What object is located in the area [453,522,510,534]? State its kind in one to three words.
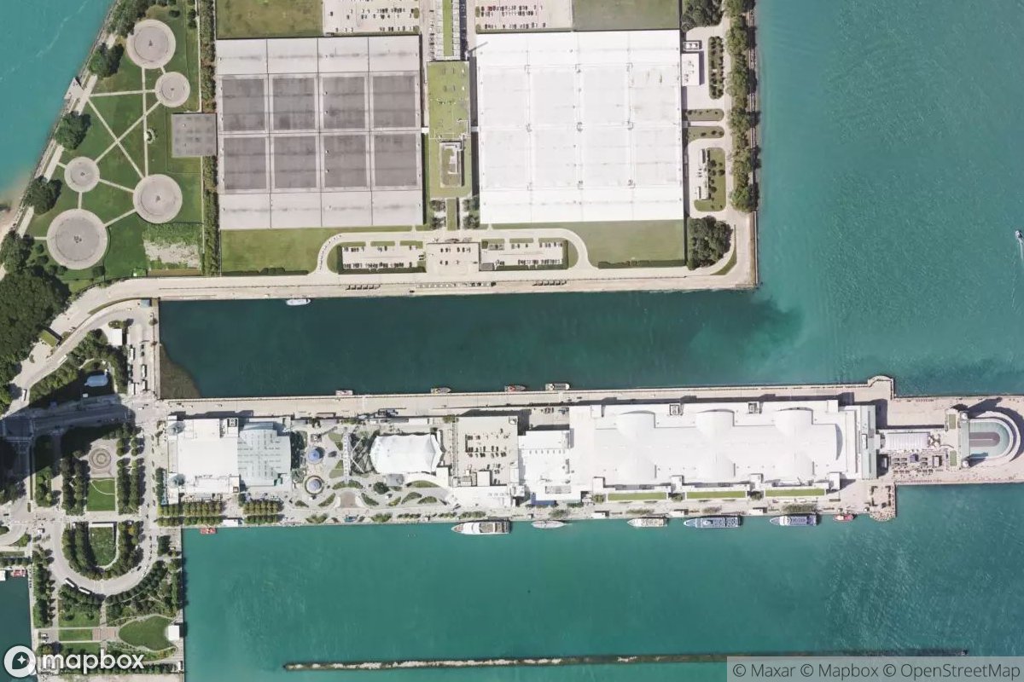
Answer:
boat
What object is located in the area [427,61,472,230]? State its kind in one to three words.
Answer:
building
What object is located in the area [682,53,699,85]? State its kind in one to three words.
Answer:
building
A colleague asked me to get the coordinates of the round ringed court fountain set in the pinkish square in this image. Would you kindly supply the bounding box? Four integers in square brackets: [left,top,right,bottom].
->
[89,447,112,469]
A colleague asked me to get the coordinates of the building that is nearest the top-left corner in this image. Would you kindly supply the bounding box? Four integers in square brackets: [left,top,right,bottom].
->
[171,112,216,157]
